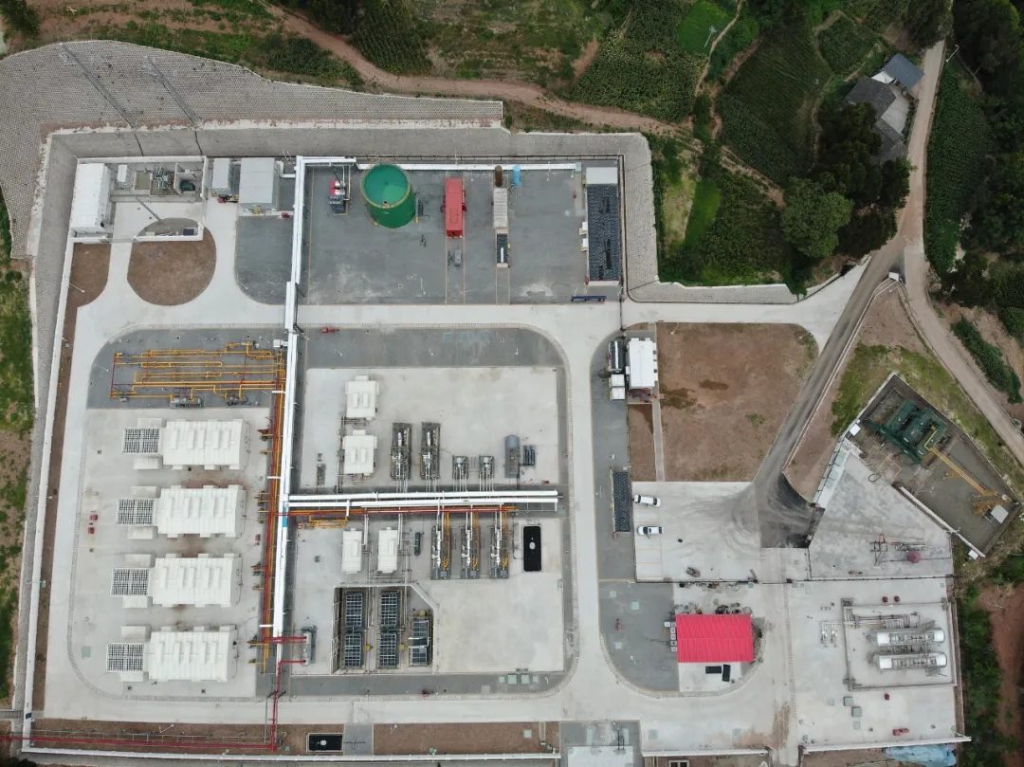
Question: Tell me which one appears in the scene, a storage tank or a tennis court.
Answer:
storage tank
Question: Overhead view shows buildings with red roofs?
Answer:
Yes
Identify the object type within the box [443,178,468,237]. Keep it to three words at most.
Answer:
shipping container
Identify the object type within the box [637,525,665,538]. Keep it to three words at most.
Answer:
vehicle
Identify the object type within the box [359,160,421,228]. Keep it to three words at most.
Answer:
storage tank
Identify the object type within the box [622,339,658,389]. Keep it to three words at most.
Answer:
building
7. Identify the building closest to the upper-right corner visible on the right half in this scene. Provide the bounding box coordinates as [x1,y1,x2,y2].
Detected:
[876,55,922,98]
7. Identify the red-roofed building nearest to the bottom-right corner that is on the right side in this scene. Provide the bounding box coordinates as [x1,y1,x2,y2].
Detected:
[673,614,753,662]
